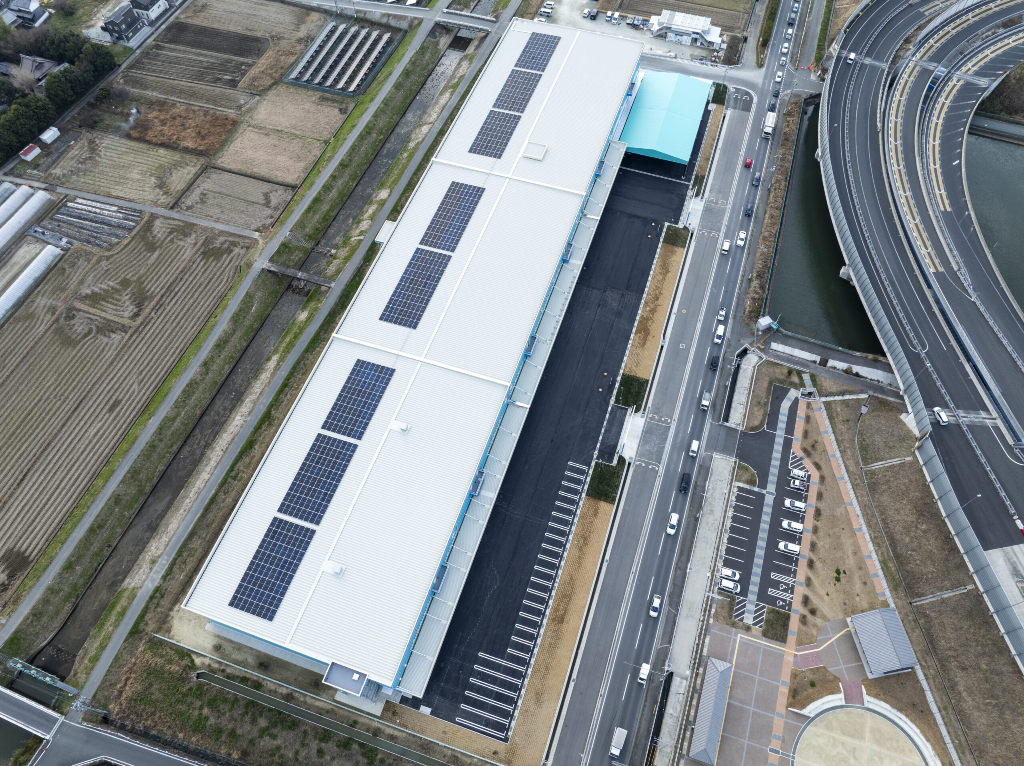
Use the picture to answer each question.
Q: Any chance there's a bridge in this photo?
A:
Yes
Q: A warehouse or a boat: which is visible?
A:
warehouse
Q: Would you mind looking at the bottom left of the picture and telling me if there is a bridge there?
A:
Yes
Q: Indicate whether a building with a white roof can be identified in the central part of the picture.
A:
Yes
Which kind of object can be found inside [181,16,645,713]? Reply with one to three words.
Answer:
warehouse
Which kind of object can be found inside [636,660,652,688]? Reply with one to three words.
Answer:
vehicle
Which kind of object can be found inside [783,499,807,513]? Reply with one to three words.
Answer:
car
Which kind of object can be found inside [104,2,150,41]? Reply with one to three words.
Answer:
house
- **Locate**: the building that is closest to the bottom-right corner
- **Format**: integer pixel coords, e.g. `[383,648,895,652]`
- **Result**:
[848,607,917,682]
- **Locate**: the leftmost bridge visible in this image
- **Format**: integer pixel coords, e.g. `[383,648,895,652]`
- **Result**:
[0,684,65,740]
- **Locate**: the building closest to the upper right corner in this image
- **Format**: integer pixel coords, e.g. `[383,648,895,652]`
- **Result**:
[648,8,721,51]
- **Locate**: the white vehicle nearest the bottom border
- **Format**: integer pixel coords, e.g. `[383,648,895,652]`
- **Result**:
[609,725,628,760]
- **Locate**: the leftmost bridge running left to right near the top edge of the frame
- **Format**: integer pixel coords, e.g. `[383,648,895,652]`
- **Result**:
[435,6,497,32]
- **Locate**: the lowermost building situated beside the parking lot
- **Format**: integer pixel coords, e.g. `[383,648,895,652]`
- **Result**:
[689,657,733,766]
